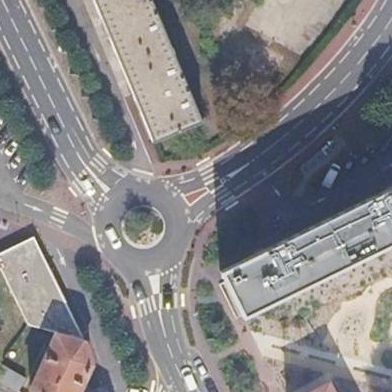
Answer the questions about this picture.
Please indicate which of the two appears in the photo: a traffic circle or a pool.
traffic circle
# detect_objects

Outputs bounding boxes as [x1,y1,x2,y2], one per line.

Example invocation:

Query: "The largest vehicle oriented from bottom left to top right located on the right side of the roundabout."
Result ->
[320,162,341,188]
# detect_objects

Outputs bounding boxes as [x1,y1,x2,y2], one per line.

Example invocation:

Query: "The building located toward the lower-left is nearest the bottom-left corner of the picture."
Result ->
[3,364,26,391]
